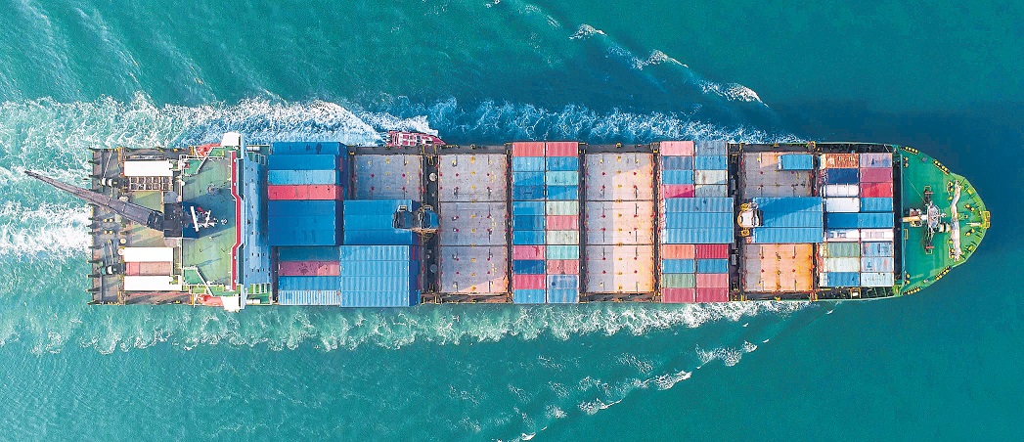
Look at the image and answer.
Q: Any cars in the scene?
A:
No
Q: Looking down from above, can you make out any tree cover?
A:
No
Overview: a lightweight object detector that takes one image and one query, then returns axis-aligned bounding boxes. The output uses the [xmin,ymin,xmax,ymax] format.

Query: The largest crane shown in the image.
[21,170,202,238]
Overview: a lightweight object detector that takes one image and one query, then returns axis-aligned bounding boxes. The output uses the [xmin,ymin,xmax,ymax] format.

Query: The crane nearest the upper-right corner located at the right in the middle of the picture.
[726,203,763,234]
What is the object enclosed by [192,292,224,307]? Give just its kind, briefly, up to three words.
boat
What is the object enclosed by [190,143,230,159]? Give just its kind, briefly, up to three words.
boat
